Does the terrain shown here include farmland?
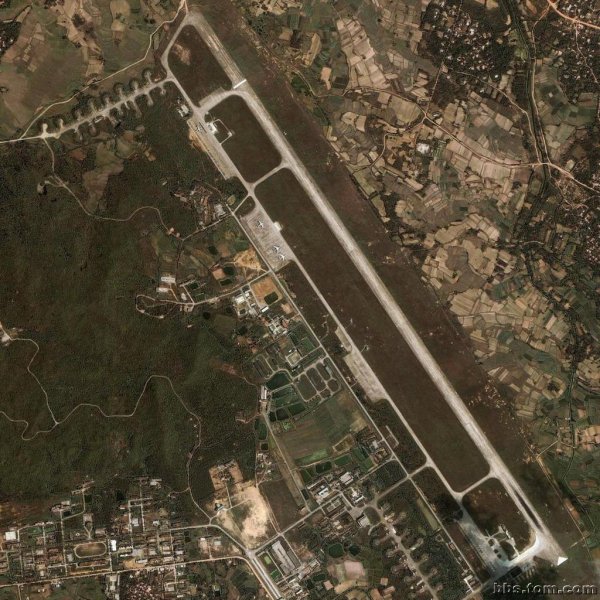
Yes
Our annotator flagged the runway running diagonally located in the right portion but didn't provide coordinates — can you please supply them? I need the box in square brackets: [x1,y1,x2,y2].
[233,79,567,570]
